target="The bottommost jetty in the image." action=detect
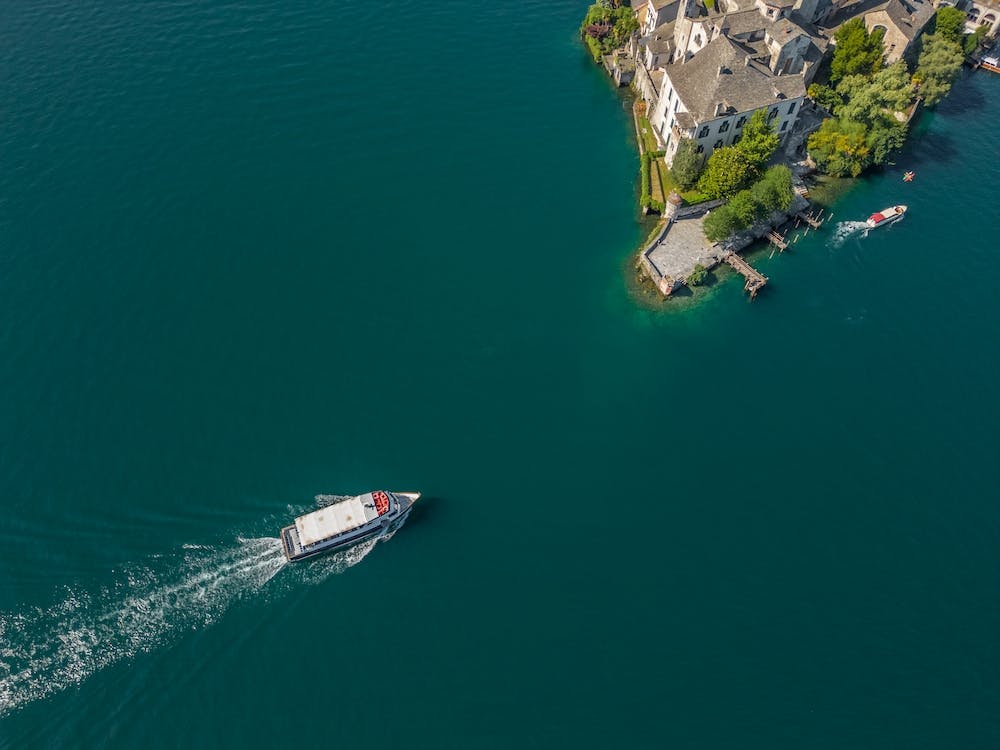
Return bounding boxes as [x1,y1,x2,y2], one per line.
[731,252,769,293]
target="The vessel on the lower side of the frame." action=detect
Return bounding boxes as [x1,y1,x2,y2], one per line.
[282,491,423,564]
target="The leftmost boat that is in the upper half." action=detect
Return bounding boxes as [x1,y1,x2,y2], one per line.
[865,205,906,229]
